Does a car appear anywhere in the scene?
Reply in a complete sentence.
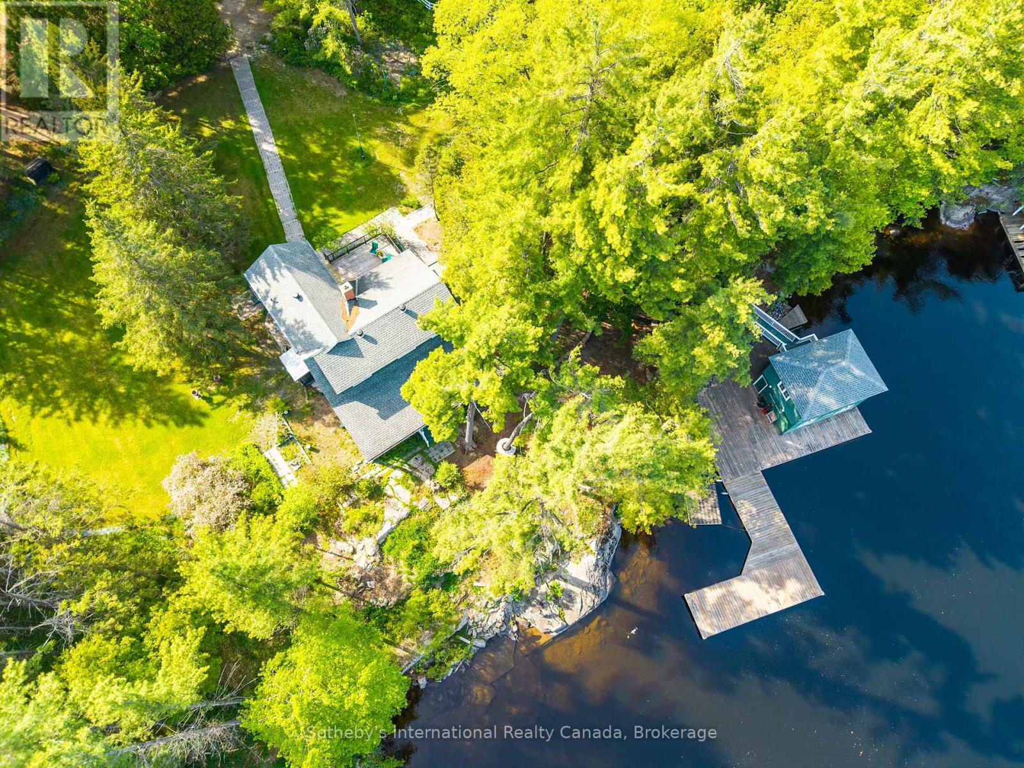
No, the picture doesn't show any car.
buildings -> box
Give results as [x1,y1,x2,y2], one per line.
[757,328,887,432]
[243,238,467,464]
